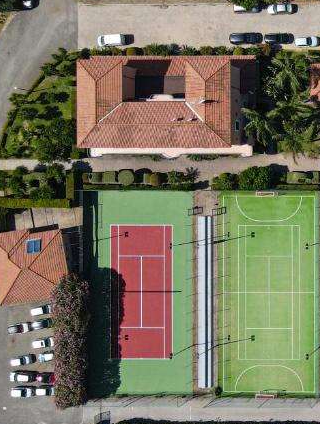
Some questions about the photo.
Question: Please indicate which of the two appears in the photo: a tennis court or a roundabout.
tennis court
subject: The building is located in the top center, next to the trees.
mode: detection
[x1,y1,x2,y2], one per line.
[76,56,266,158]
